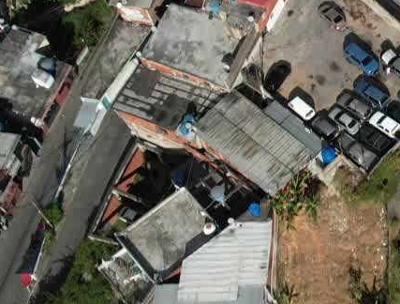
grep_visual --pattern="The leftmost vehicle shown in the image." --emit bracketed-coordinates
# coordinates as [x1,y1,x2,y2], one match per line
[262,60,294,92]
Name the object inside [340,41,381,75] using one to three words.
car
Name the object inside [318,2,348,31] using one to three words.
car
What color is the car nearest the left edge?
black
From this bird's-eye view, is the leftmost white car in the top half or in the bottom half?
top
